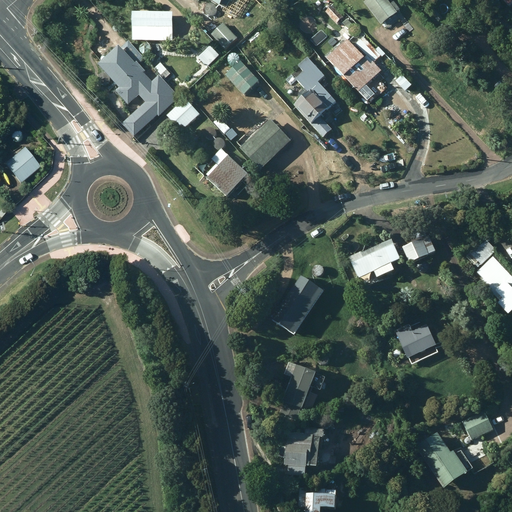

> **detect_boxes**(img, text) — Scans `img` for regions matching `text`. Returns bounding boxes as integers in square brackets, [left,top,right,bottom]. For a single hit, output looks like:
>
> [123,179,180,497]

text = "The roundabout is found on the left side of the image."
[86,175,133,222]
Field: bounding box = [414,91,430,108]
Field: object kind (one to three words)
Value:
vehicle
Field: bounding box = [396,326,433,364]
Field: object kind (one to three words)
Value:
house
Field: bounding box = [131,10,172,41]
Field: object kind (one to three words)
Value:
barn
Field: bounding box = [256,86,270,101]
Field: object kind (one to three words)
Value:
car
